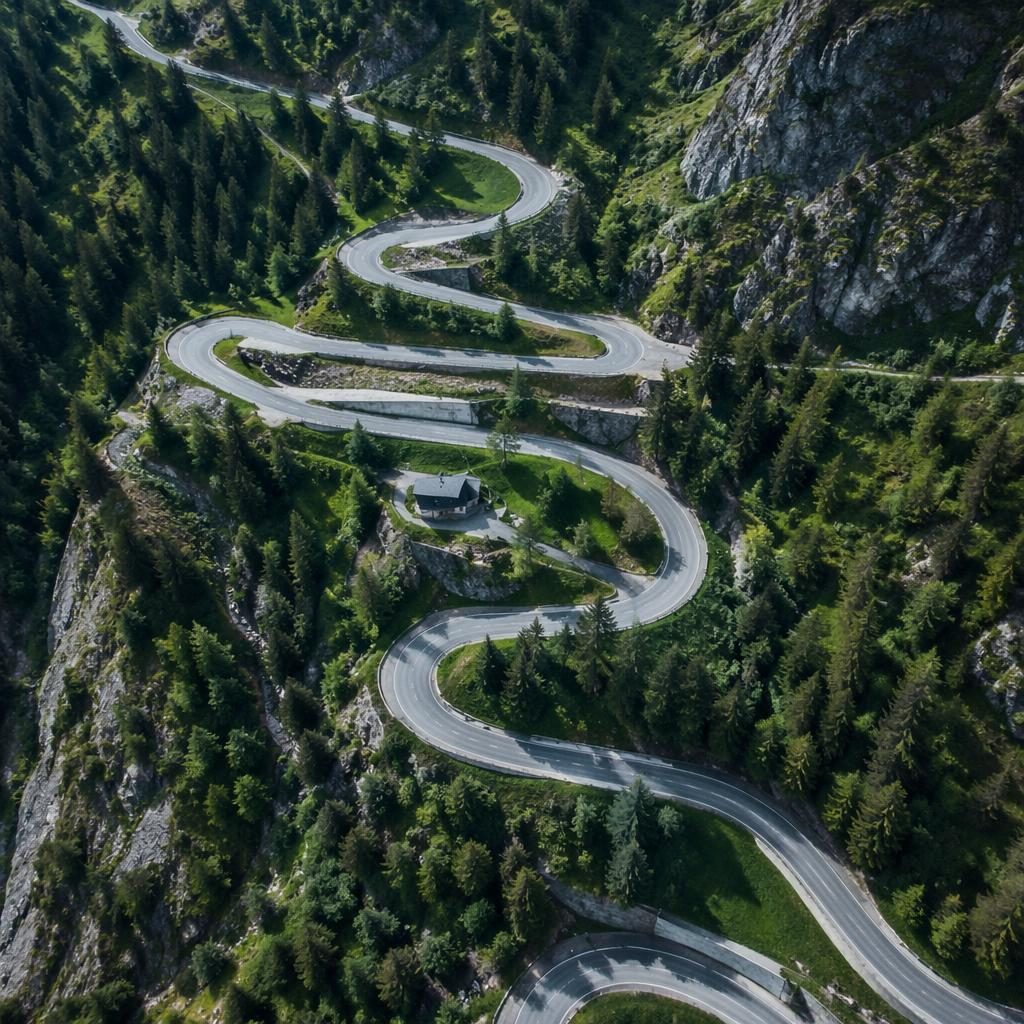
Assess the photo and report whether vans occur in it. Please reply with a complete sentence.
No, there isn't any van down there.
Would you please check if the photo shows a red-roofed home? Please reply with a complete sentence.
No, the picture doesn't show any red-roofed home.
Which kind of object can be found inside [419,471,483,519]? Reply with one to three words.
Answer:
house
